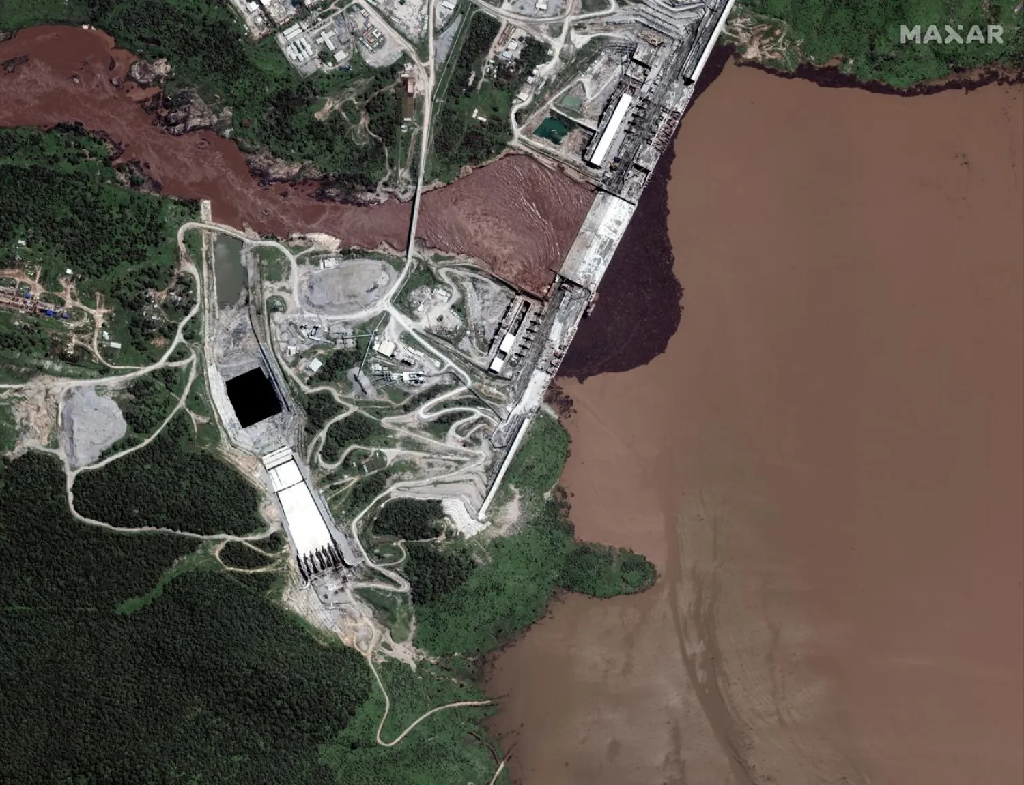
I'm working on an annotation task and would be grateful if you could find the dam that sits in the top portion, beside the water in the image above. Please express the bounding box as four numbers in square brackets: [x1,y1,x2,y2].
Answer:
[479,0,734,521]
